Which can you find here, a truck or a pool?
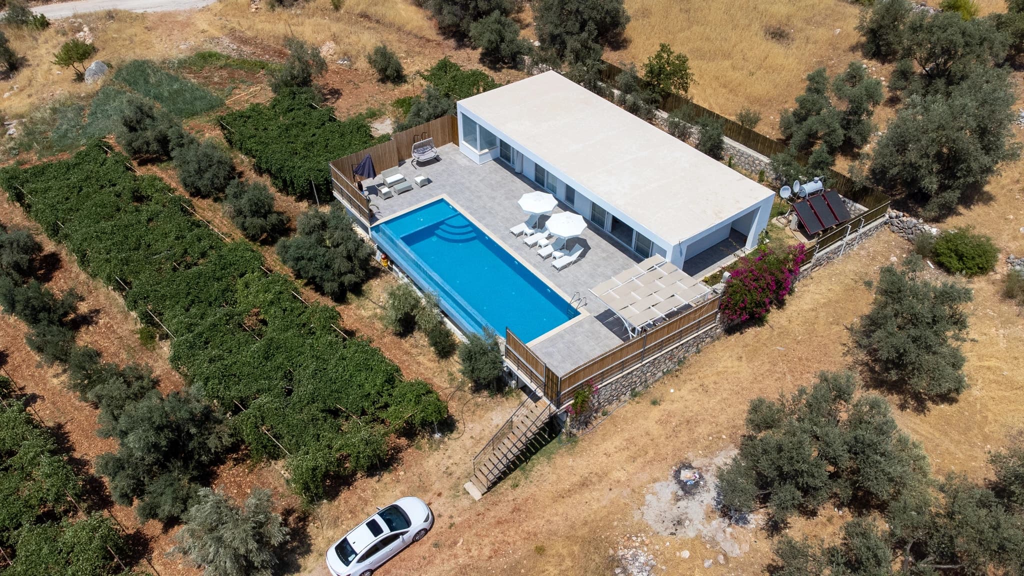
pool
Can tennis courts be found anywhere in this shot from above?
No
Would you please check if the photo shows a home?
Yes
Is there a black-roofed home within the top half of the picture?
No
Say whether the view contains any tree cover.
Yes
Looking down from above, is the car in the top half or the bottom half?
bottom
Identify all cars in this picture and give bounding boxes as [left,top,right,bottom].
[321,492,435,576]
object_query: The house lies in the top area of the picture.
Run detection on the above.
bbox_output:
[457,71,776,297]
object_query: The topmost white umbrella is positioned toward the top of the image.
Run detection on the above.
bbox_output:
[518,187,560,216]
